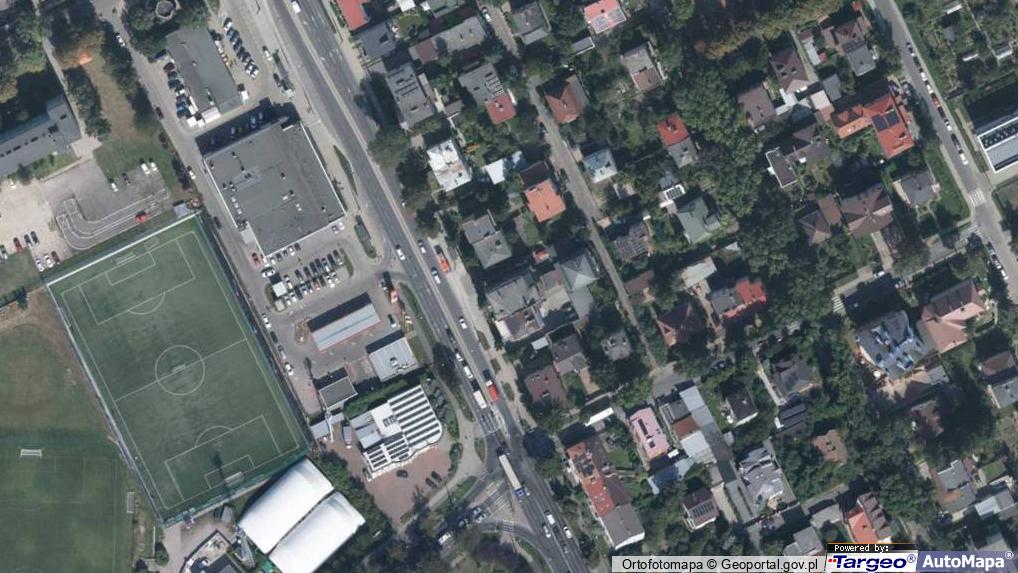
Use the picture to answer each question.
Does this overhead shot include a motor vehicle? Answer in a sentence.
Yes, I can see a motor vehicle in this picture.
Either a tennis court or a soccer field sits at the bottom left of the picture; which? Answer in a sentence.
The one visible at the bottom left of the picture is a soccer field.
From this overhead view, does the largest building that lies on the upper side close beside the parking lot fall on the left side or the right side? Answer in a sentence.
The largest building that lies on the upper side close beside the parking lot appears in the left half of the scene.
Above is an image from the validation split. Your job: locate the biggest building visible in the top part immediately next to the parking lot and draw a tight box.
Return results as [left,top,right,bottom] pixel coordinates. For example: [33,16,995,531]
[203,117,346,259]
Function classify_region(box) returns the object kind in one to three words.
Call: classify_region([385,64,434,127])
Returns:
house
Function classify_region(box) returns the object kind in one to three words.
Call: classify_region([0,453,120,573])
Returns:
soccer field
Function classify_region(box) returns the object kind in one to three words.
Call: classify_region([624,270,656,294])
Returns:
building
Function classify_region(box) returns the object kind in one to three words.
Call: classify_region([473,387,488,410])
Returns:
vehicle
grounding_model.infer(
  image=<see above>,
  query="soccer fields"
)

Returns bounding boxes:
[48,215,311,524]
[0,453,120,573]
